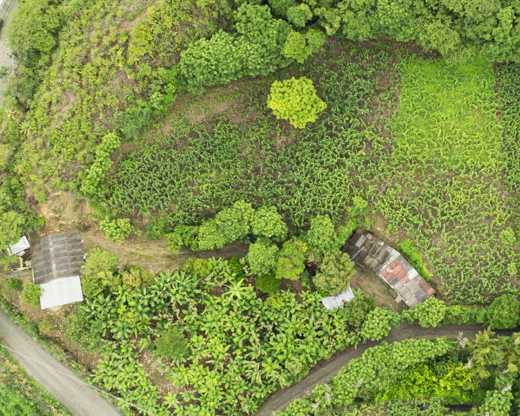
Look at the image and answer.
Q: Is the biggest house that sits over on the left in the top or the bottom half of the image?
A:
bottom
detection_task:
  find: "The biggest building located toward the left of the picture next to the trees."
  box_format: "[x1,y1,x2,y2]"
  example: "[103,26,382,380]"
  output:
[28,231,88,310]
